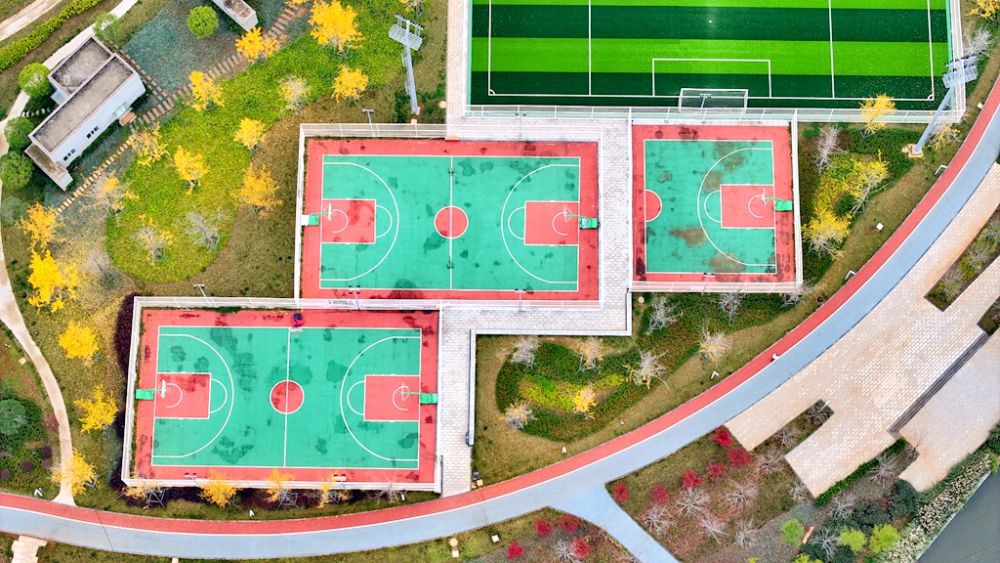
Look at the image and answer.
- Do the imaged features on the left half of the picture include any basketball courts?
Yes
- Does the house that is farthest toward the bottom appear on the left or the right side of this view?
left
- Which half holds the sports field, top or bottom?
top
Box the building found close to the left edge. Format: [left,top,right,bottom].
[25,37,146,187]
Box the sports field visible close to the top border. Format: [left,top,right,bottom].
[467,0,957,120]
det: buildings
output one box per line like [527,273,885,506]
[208,0,258,27]
[25,37,146,187]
